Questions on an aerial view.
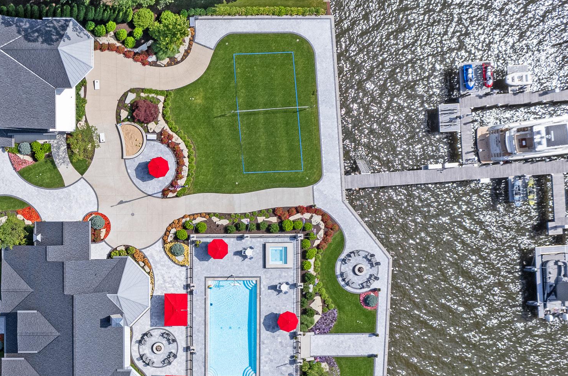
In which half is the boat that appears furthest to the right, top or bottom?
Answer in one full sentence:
You can find the boat that appears furthest to the right in the bottom half.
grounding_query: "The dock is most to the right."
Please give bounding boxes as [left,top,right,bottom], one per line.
[545,173,568,235]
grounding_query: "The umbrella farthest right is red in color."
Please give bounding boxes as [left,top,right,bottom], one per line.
[276,310,298,333]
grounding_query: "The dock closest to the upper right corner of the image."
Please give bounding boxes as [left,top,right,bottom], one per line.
[502,65,530,94]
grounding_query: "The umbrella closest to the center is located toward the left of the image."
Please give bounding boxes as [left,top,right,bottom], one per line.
[207,239,227,258]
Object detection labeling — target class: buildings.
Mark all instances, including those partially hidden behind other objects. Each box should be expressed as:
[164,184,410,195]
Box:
[0,221,150,376]
[0,16,94,149]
